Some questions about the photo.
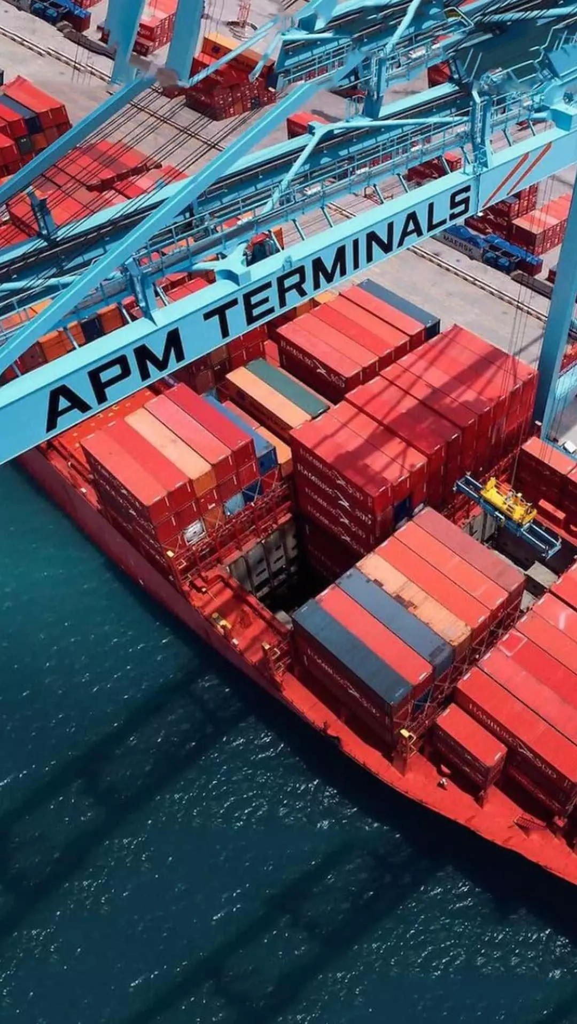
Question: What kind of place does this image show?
port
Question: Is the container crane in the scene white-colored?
No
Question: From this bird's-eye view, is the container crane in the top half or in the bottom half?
top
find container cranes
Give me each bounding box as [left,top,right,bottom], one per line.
[0,0,577,465]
